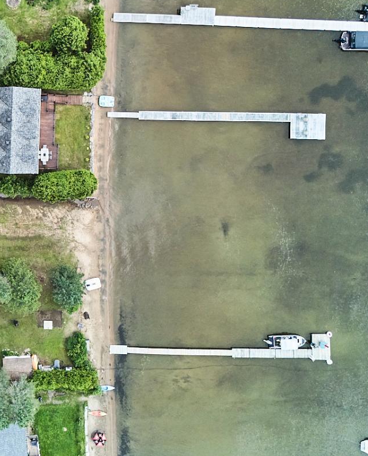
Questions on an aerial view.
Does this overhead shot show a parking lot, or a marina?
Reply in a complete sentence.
This image shows a marina.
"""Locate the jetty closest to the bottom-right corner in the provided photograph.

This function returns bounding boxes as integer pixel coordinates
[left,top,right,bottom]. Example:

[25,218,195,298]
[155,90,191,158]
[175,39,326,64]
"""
[109,331,333,364]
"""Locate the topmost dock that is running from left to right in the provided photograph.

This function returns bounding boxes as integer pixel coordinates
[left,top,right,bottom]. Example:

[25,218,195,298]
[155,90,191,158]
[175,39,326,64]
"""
[113,4,368,31]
